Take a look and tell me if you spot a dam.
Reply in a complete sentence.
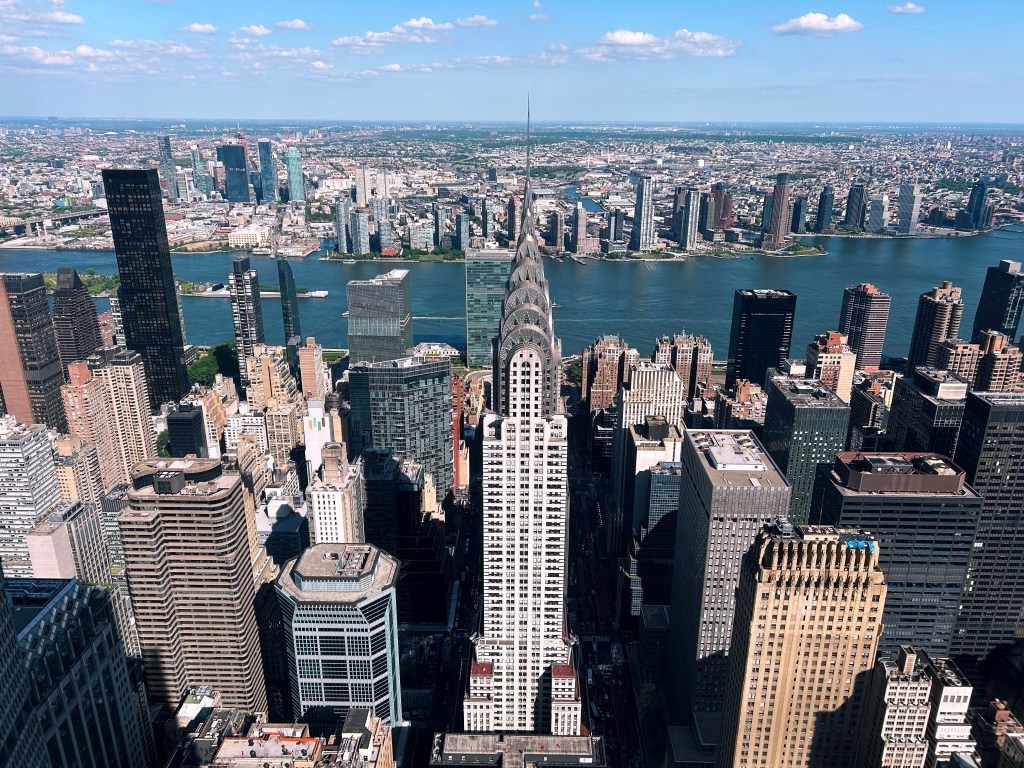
No, there isn't any dam down there.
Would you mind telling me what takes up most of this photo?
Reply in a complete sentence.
For the most part, this view shows buildings.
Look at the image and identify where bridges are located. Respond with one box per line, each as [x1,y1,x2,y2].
[0,211,110,238]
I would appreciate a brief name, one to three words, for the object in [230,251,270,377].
building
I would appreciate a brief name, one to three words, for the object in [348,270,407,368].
building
